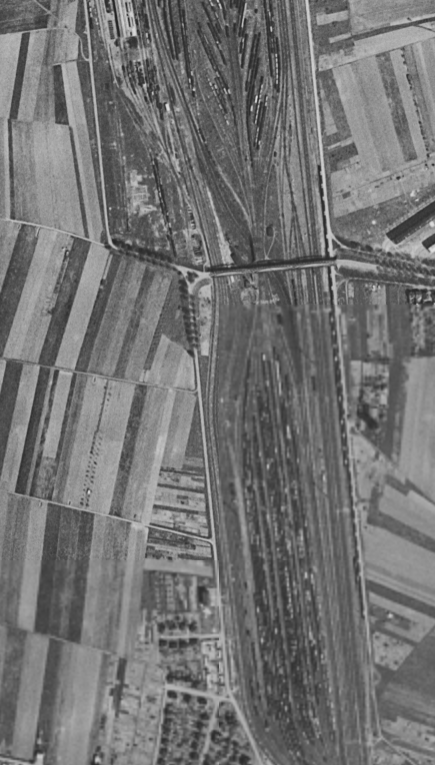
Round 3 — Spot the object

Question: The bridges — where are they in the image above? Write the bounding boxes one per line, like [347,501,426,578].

[207,258,339,277]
